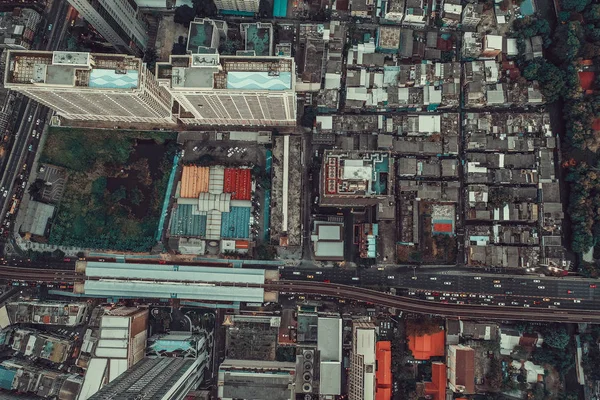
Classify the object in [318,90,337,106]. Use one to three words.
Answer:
house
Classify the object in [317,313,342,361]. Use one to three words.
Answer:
building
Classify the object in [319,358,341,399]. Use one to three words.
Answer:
building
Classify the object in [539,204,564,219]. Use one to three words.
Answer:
house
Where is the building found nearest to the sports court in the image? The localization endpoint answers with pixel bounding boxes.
[429,203,455,218]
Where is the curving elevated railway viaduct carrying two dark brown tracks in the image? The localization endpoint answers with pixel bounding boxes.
[0,265,600,325]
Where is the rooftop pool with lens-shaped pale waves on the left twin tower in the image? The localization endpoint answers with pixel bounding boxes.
[89,69,138,88]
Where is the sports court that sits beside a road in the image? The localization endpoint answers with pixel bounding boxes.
[432,218,456,237]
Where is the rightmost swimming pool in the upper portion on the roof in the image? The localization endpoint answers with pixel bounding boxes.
[226,71,291,90]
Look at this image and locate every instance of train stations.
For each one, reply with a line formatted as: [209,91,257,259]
[73,260,279,303]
